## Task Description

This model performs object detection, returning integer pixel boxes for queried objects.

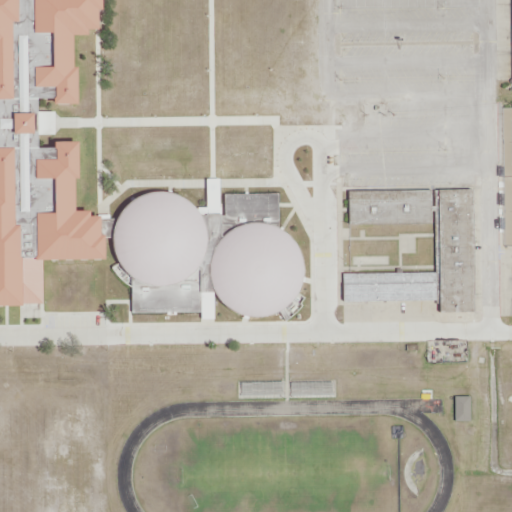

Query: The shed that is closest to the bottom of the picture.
[456,397,472,422]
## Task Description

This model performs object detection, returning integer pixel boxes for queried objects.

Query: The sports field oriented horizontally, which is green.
[181,425,388,512]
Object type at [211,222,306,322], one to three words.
building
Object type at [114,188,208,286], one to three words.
building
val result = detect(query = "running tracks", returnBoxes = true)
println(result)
[118,400,453,512]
